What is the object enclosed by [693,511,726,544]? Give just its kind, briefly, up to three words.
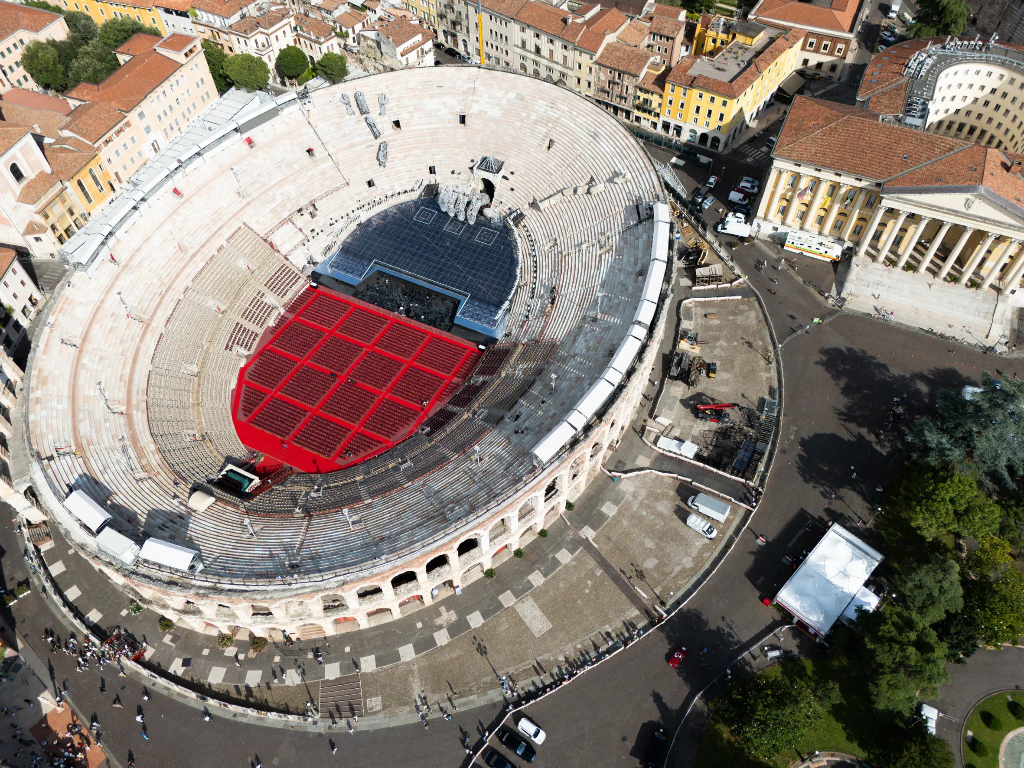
van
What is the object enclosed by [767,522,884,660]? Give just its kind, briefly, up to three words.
tent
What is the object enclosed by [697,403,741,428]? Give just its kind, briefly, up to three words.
vehicle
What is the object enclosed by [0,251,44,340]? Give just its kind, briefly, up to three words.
house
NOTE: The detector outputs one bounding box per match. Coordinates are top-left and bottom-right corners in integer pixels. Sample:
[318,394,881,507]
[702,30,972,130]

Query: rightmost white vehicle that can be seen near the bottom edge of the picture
[514,714,549,749]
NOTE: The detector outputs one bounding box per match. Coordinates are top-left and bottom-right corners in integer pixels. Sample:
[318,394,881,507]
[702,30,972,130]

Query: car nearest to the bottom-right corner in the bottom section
[669,641,692,671]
